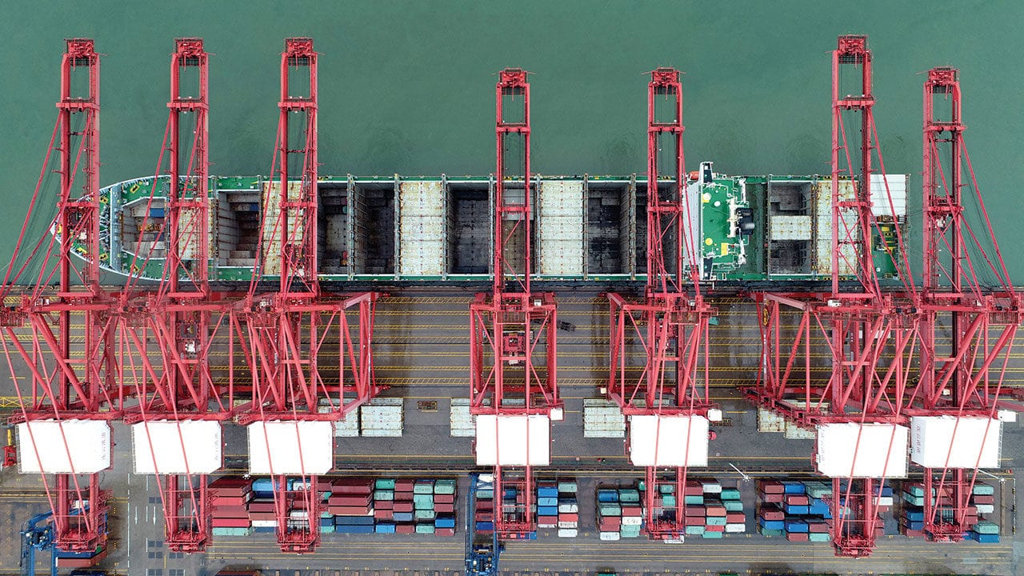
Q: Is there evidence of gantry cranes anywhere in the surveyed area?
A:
Yes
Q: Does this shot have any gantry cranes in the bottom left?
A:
Yes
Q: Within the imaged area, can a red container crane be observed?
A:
Yes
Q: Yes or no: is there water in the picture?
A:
Yes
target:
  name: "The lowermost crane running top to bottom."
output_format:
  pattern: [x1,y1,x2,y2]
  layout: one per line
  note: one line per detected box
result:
[466,457,504,576]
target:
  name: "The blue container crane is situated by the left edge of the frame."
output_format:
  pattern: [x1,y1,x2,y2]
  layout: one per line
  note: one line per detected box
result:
[24,503,109,576]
